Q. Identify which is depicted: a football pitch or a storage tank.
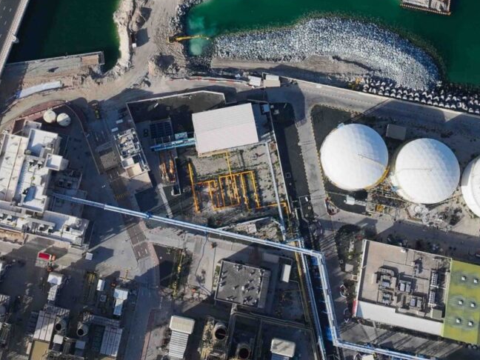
storage tank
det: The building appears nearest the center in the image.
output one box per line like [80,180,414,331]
[192,103,258,157]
